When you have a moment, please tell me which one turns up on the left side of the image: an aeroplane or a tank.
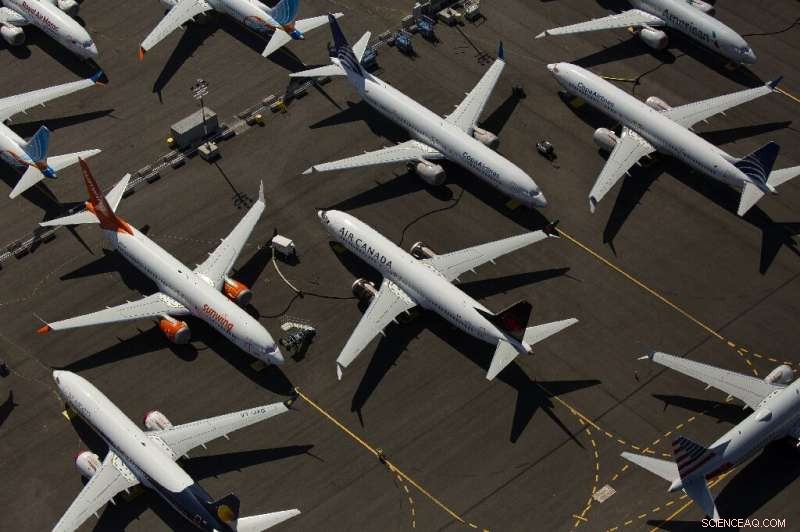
aeroplane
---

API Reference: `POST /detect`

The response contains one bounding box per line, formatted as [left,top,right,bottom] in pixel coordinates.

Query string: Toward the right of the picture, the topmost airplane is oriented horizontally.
[534,0,758,66]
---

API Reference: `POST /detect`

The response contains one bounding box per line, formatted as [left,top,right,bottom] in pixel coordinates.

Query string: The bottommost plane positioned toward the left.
[50,370,302,532]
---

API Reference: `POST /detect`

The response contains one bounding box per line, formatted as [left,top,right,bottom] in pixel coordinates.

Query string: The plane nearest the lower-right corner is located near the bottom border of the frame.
[621,342,800,523]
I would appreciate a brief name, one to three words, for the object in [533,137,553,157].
work vehicle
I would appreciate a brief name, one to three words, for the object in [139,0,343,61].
airplane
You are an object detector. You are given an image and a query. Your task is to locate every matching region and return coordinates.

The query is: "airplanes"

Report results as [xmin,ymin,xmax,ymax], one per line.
[546,62,800,216]
[0,67,107,199]
[50,370,302,532]
[291,13,548,209]
[35,157,285,363]
[319,209,578,380]
[0,0,100,61]
[139,0,343,61]
[534,0,758,66]
[621,342,800,523]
